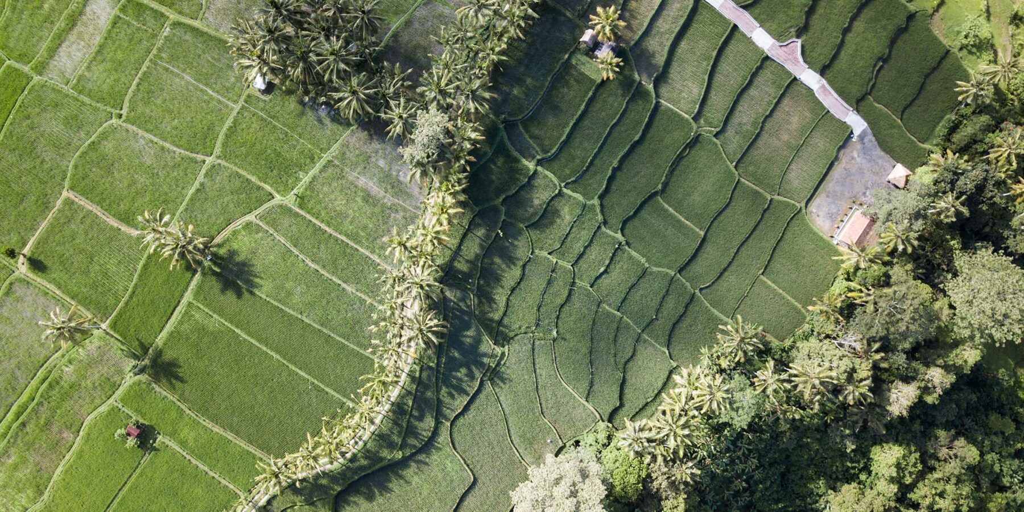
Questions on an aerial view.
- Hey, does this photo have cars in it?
No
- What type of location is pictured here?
farmland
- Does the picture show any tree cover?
Yes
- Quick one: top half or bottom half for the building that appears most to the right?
top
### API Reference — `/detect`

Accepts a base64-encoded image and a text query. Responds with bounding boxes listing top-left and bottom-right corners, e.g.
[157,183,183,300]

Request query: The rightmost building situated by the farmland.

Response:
[882,161,911,189]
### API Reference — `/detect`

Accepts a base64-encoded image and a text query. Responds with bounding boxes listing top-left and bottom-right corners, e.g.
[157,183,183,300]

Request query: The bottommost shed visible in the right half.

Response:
[835,210,874,252]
